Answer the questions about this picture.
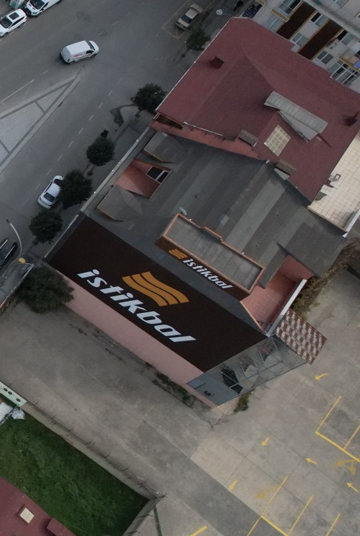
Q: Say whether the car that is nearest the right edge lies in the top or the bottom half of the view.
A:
top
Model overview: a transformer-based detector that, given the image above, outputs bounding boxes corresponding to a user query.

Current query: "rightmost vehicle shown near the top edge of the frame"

[172,0,206,31]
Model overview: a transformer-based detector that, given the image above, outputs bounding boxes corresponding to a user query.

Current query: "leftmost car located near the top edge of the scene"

[0,6,30,38]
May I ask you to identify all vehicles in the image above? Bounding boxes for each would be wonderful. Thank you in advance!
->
[0,235,20,273]
[36,174,64,212]
[58,38,102,66]
[0,6,30,38]
[24,0,60,17]
[172,0,206,31]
